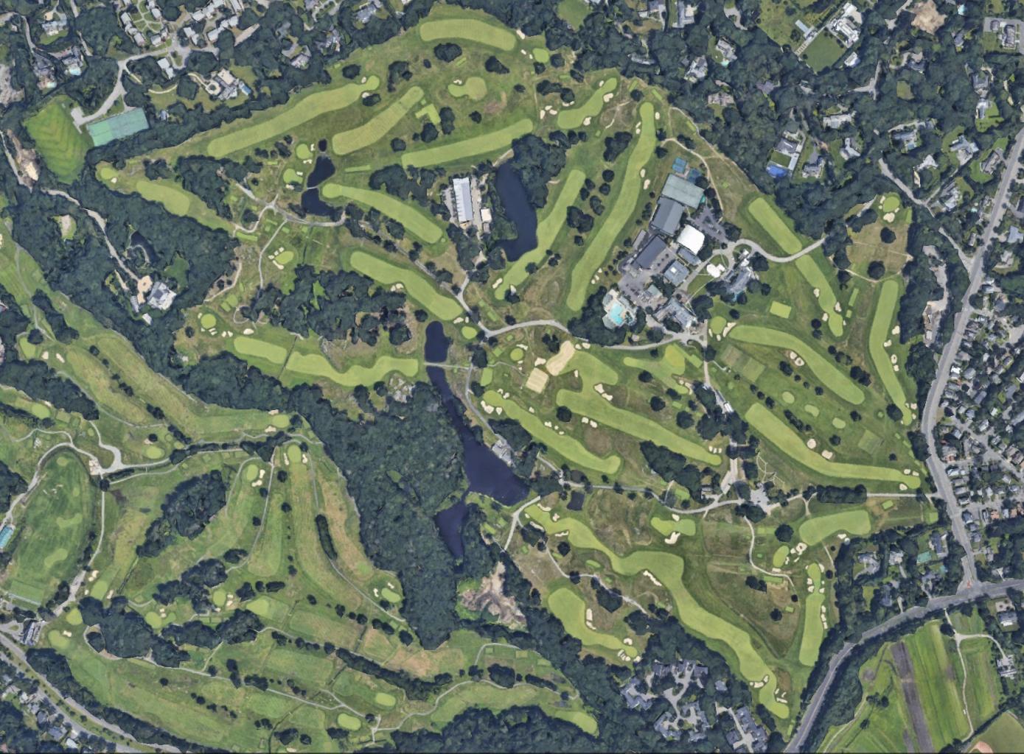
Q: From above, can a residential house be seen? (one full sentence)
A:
Yes, the picture does show a residential house.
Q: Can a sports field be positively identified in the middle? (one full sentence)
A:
No, the scene shows no sports field in the middle.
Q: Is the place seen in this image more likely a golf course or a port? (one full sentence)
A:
What you see here is a golf course.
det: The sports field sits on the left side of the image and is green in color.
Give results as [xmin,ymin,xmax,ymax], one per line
[24,95,93,182]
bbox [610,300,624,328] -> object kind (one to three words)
swimming pool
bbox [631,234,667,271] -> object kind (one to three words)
building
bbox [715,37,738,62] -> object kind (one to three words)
house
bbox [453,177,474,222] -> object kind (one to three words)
shed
